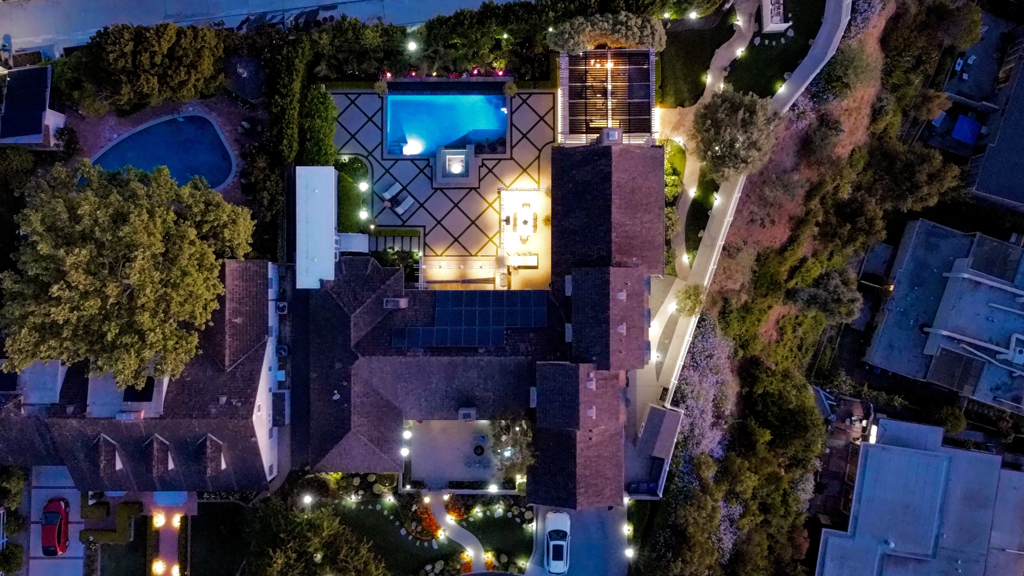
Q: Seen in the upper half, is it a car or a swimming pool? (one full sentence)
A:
You can see a swimming pool in the upper half.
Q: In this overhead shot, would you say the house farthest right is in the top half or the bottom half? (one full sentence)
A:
Seen from above, the house farthest right lies in the top half of the view.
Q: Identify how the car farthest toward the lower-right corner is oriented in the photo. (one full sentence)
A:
From this overhead view, the car farthest toward the lower-right corner appears to run from top to bottom.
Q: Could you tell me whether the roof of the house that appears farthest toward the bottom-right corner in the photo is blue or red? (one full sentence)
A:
The color of the roof of the house that appears farthest toward the bottom-right corner is blue.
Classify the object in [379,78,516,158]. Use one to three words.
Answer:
swimming pool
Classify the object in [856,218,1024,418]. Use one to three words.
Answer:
house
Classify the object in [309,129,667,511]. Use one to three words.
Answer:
house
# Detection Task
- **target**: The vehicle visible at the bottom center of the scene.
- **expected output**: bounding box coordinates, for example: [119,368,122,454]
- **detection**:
[542,512,573,575]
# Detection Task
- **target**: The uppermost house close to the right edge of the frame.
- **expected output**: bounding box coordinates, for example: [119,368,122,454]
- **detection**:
[952,48,1024,213]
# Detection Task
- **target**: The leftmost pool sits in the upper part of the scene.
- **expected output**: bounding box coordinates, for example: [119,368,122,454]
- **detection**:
[78,113,235,202]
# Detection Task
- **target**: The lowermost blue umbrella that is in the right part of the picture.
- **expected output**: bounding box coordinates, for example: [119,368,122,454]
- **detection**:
[950,115,982,145]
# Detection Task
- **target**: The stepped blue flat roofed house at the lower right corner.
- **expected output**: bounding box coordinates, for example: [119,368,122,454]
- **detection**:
[803,413,1024,576]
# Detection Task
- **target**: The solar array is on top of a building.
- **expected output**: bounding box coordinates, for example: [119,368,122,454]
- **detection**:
[392,291,546,346]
